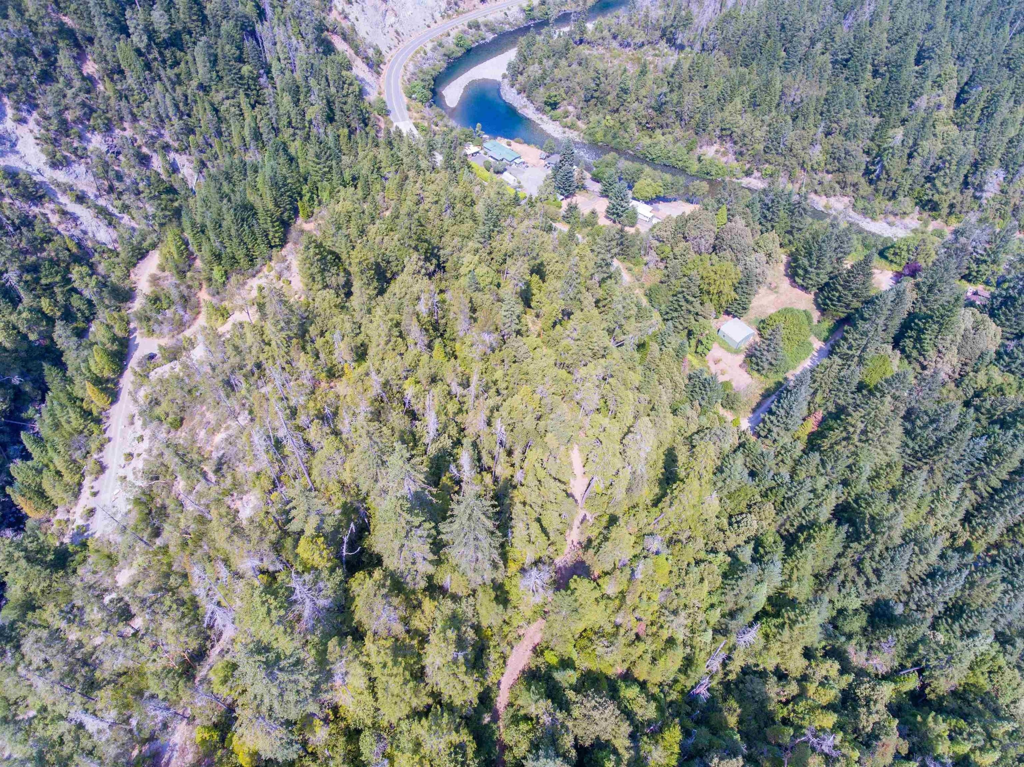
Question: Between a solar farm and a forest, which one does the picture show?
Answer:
forest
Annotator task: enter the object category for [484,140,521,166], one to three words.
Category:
house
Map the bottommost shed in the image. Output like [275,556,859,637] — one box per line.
[720,318,755,348]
